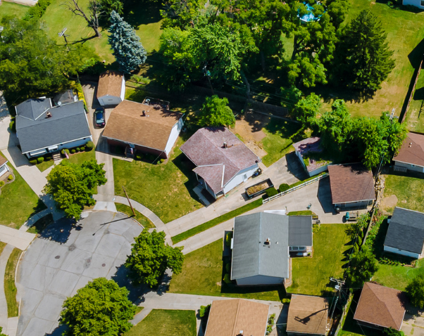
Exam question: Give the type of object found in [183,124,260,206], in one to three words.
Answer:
house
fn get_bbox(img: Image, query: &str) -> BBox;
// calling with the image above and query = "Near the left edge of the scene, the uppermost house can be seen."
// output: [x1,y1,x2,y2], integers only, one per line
[14,97,93,162]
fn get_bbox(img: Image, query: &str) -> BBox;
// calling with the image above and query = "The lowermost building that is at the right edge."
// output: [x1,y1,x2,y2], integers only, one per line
[353,282,406,331]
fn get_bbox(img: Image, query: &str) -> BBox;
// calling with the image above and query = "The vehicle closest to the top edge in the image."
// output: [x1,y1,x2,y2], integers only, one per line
[92,104,104,126]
